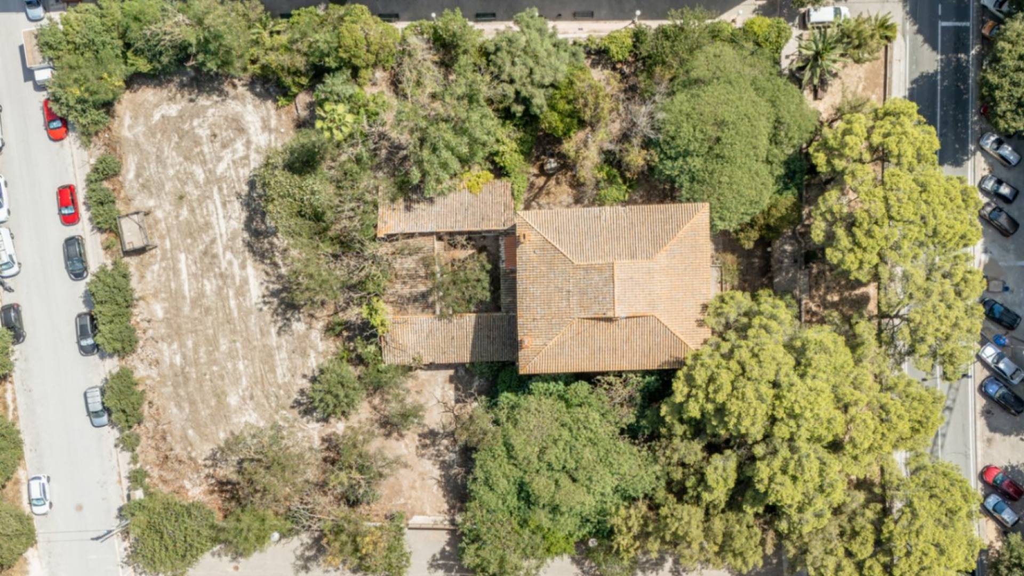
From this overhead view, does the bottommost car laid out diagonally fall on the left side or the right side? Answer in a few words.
right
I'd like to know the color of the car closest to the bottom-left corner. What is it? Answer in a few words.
white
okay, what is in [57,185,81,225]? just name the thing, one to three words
car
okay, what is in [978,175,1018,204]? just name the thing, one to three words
car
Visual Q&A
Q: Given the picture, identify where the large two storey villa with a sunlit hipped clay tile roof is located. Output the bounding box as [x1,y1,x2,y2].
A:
[516,201,713,375]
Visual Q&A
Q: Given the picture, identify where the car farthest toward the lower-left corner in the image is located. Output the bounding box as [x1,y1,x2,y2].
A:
[28,474,52,515]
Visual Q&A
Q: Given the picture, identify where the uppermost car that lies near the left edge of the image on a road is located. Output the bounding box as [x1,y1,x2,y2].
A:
[22,0,47,21]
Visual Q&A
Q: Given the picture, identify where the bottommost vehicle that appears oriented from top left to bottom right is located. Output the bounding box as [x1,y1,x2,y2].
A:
[980,492,1020,528]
